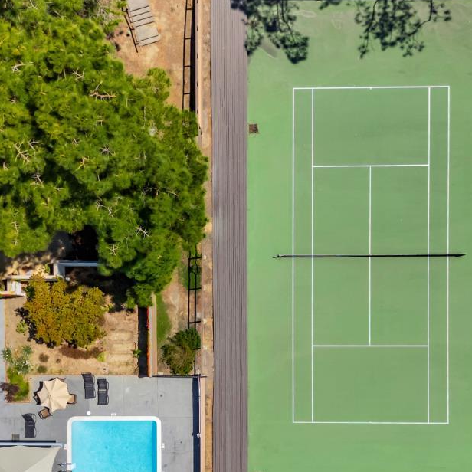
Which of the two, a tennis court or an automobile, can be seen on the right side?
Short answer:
tennis court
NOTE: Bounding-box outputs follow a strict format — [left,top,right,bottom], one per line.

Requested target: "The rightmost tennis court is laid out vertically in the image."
[293,85,450,425]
